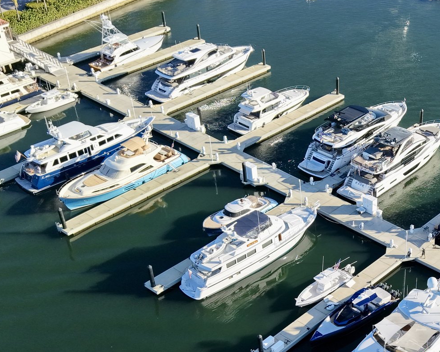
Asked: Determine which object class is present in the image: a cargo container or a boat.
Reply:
boat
